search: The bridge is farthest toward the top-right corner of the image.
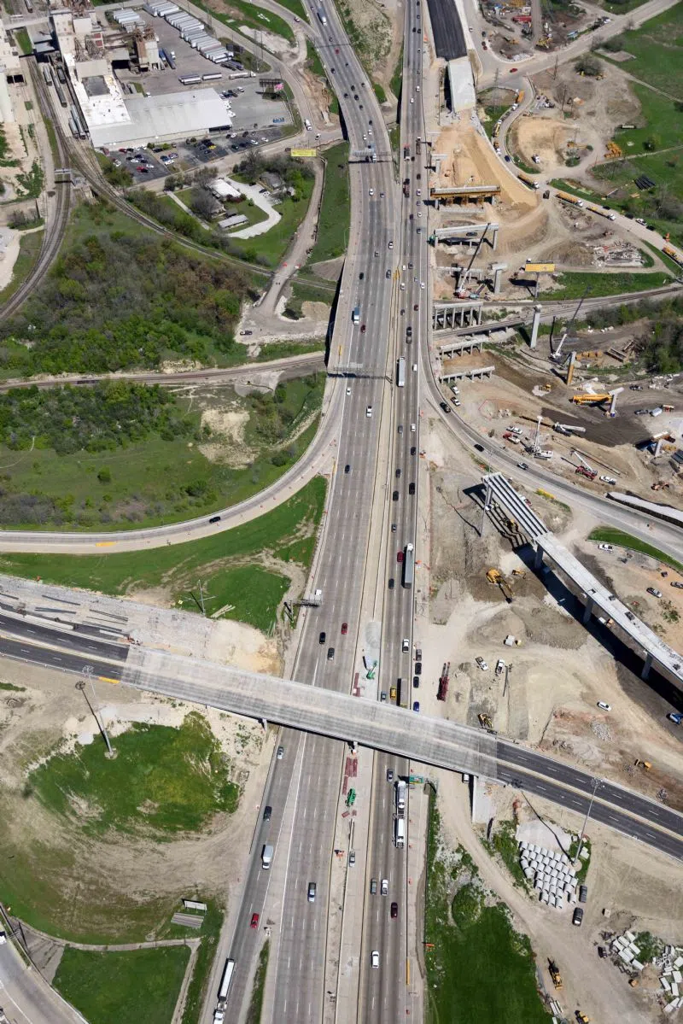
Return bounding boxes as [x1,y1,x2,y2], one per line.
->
[427,0,476,119]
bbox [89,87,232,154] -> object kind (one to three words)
building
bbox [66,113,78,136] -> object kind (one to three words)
rail car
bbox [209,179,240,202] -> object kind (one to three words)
house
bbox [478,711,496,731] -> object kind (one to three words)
work vehicle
